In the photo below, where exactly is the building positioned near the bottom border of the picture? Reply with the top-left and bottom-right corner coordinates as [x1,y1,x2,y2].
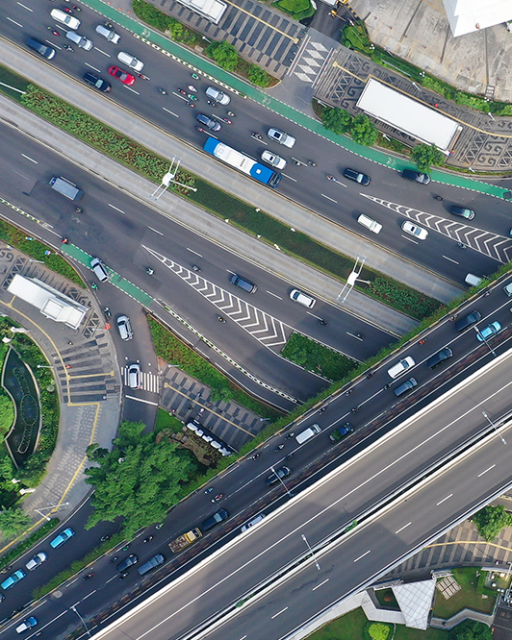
[392,578,440,630]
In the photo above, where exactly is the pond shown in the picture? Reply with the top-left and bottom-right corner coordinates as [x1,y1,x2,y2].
[5,349,41,467]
